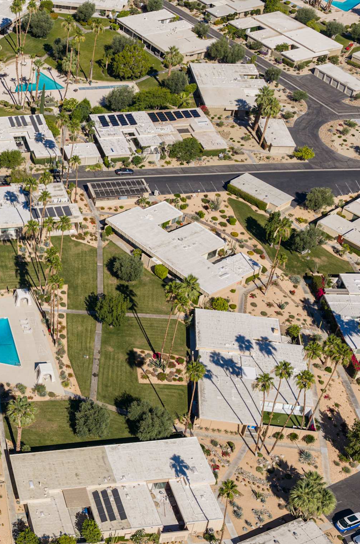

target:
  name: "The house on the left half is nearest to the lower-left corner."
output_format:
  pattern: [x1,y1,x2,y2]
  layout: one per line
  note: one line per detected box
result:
[9,436,225,544]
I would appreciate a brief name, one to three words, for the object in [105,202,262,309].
house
